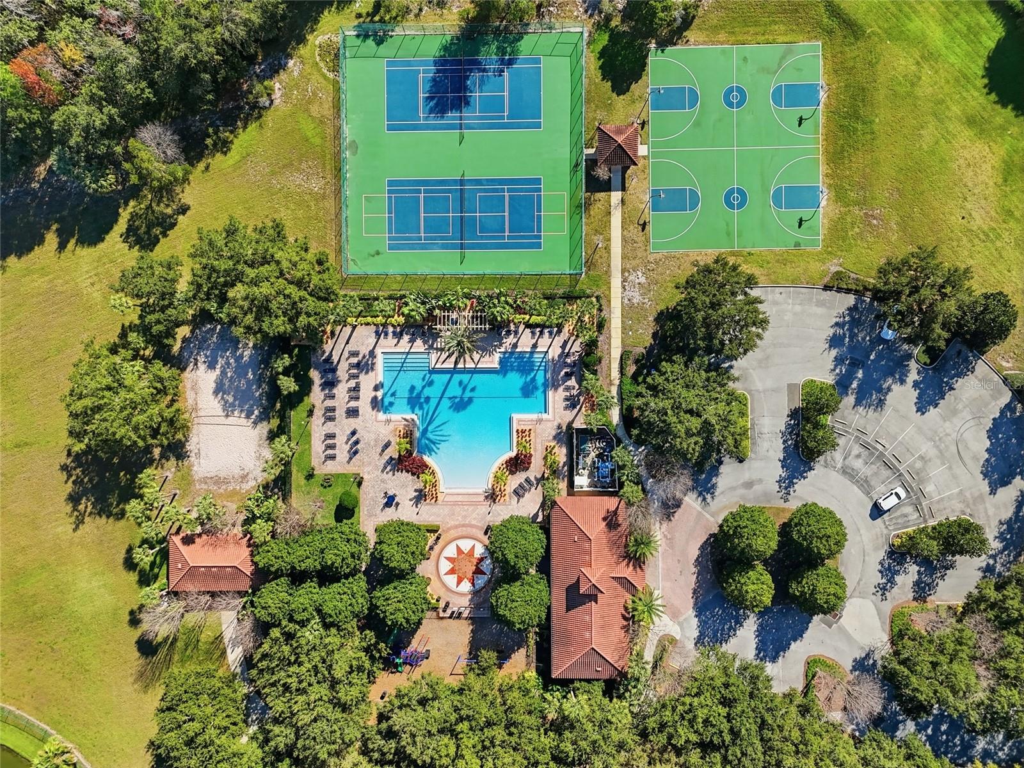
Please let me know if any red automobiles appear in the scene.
No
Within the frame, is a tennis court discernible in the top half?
Yes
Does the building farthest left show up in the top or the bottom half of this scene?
bottom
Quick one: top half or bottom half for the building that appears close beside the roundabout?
bottom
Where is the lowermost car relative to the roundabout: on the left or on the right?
to the right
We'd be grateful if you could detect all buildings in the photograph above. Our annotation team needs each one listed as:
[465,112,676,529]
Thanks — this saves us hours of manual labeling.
[168,533,266,591]
[597,124,639,170]
[550,497,646,679]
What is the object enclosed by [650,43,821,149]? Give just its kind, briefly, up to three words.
basketball court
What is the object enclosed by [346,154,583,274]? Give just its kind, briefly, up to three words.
tennis court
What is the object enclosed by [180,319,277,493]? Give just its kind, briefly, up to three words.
sports court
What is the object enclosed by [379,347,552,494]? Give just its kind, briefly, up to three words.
swimming pool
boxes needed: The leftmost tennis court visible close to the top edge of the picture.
[345,33,583,156]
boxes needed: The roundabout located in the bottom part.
[704,479,863,630]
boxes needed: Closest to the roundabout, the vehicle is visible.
[873,485,905,512]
